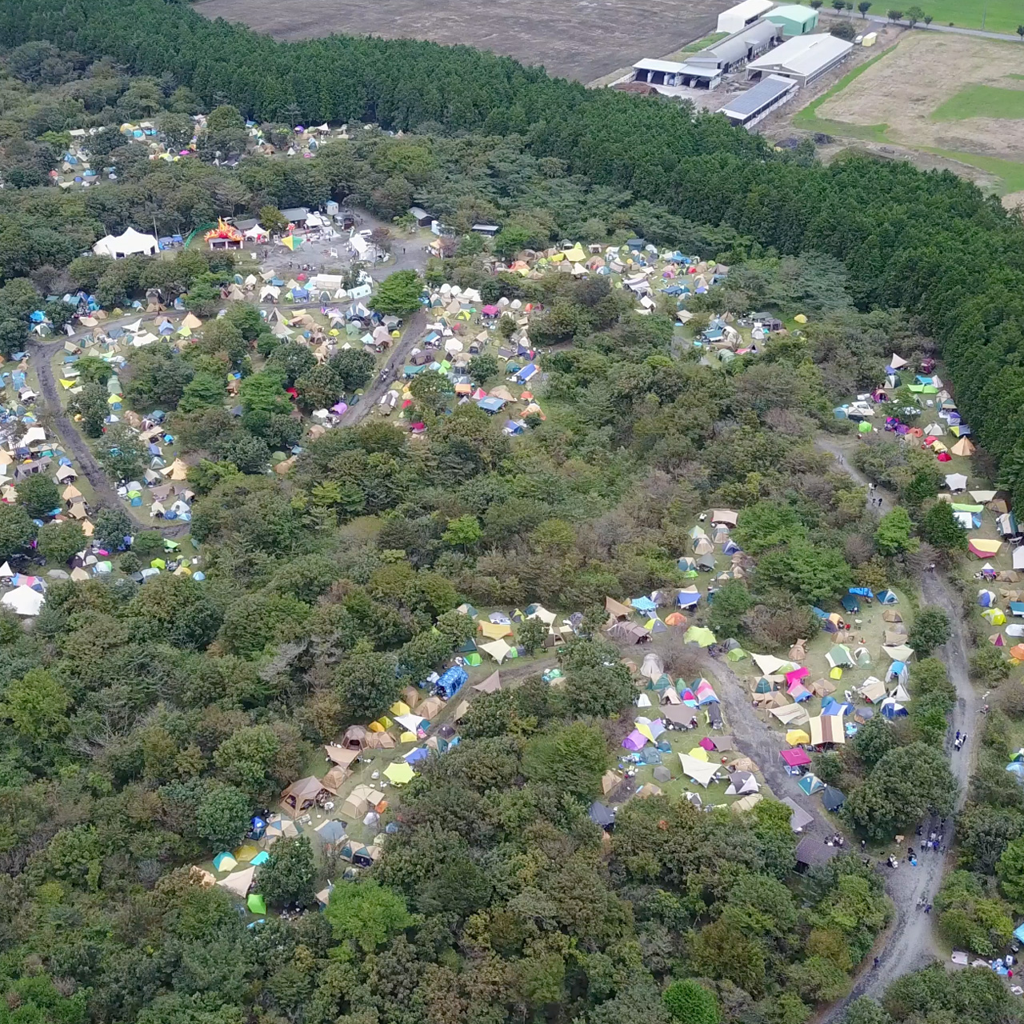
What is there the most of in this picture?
trees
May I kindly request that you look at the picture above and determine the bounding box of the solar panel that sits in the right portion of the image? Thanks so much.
[720,78,793,117]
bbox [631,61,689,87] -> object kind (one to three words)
shed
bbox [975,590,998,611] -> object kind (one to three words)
tent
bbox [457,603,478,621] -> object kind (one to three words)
tent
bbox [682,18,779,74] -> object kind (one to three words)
barn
